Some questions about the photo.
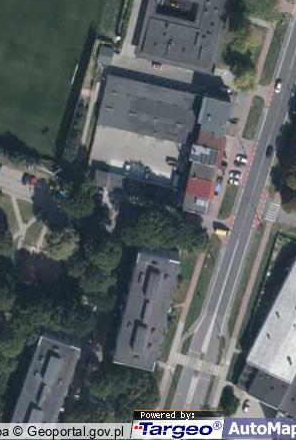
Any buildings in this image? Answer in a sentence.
Yes, you can see a building in this photo.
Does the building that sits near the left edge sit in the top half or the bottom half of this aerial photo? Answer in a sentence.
It is in the bottom half that the building that sits near the left edge appears.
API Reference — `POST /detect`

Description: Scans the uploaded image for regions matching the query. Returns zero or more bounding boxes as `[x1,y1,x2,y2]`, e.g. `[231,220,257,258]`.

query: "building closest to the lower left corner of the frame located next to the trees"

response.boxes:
[4,332,80,440]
